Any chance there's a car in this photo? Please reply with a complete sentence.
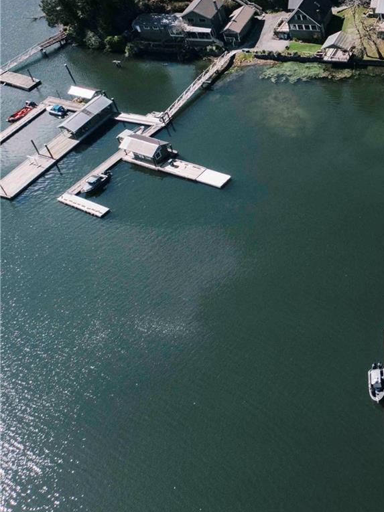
No, there's no car here.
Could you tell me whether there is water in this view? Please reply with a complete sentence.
Yes, water can be seen from above here.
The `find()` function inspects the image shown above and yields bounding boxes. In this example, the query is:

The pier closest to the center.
[198,169,231,190]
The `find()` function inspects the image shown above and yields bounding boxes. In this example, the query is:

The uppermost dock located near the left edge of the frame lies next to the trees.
[0,25,75,75]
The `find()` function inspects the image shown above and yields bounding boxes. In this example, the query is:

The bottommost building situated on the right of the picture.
[321,30,356,74]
